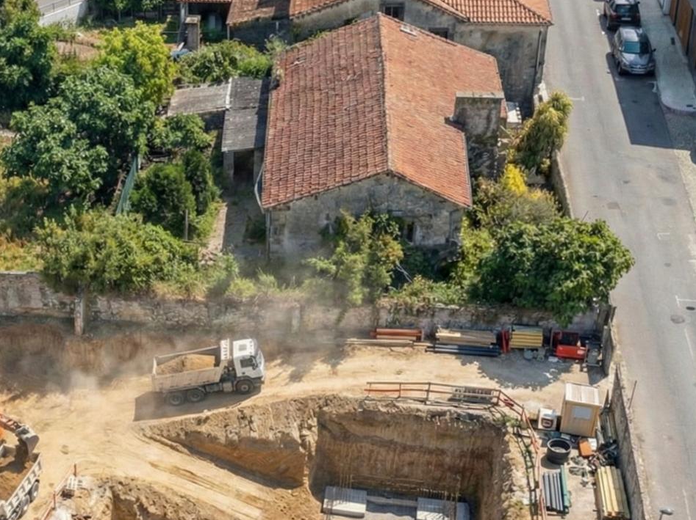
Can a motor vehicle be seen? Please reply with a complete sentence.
Yes, I can see a motor vehicle in this picture.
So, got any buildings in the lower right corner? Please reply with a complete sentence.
Yes, a building shows up in the lower right corner.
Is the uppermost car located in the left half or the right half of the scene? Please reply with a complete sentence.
You can find the uppermost car on the right side of the picture.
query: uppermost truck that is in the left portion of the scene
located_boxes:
[145,340,268,411]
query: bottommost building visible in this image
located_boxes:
[560,378,604,436]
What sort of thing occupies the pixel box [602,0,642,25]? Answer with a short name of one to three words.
car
